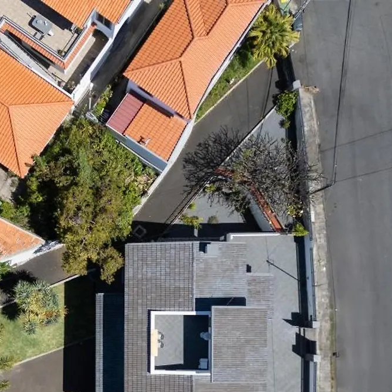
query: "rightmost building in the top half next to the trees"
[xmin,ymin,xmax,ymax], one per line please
[104,0,270,215]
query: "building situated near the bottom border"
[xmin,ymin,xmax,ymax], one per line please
[96,242,272,392]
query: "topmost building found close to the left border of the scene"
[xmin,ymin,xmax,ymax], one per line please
[0,0,137,111]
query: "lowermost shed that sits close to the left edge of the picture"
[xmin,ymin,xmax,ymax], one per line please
[0,219,53,268]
